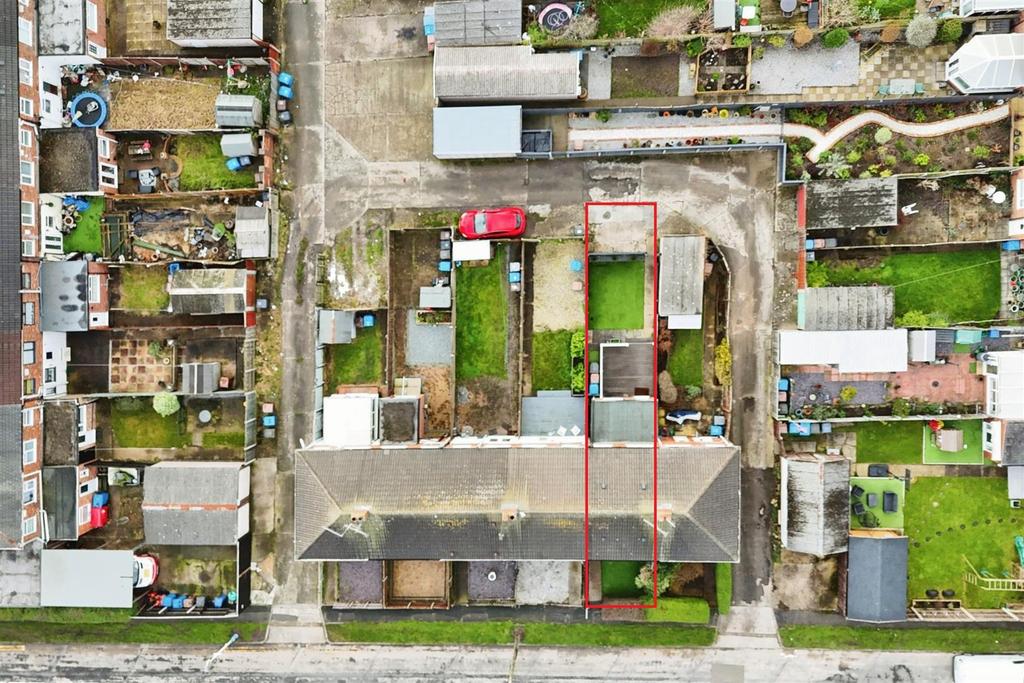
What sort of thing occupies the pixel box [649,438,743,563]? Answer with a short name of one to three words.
house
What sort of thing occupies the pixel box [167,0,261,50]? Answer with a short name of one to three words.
building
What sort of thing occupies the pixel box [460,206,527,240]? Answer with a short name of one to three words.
car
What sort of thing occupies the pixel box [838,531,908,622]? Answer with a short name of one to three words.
shed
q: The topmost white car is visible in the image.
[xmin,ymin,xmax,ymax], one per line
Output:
[134,554,162,583]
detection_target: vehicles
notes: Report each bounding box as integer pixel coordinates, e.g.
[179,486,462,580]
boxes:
[460,206,527,240]
[952,654,1024,683]
[134,554,162,583]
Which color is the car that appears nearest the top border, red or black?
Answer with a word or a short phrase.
red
